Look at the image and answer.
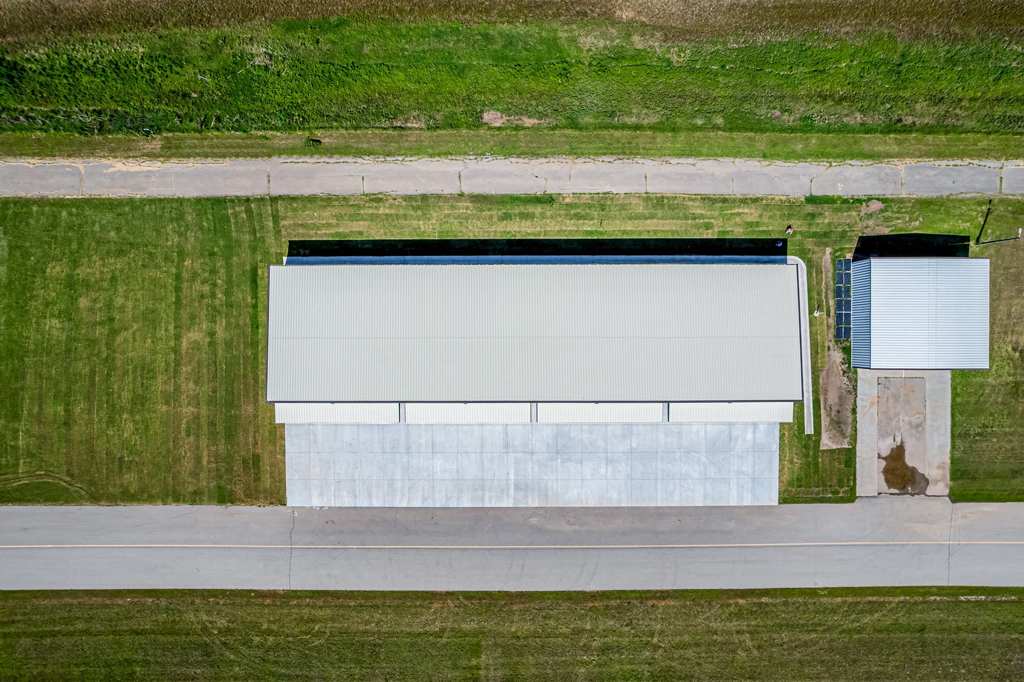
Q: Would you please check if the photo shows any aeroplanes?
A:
No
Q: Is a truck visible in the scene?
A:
No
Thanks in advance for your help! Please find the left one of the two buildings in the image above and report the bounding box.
[264,263,804,423]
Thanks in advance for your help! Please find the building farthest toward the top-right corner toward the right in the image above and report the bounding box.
[851,254,990,370]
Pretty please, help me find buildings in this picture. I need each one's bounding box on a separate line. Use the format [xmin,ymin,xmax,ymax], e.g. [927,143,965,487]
[264,263,804,423]
[851,254,990,370]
